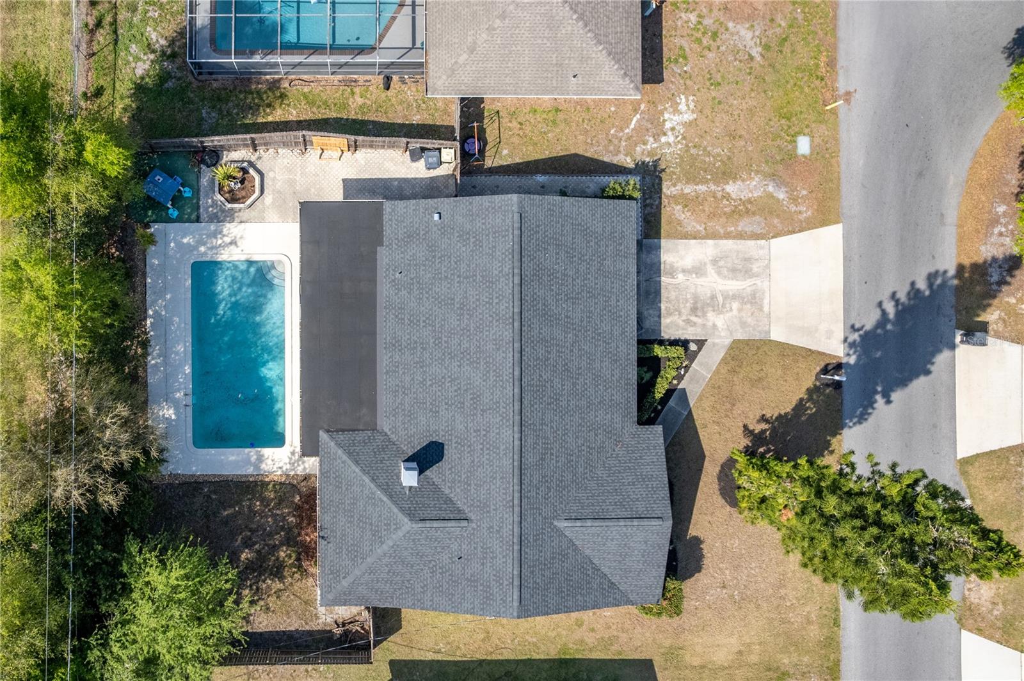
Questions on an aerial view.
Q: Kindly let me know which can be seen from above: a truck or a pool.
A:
pool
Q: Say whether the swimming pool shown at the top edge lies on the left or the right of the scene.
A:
left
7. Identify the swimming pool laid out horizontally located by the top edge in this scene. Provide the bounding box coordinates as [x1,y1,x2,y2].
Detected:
[210,0,410,56]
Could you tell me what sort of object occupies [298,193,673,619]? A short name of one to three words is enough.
house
